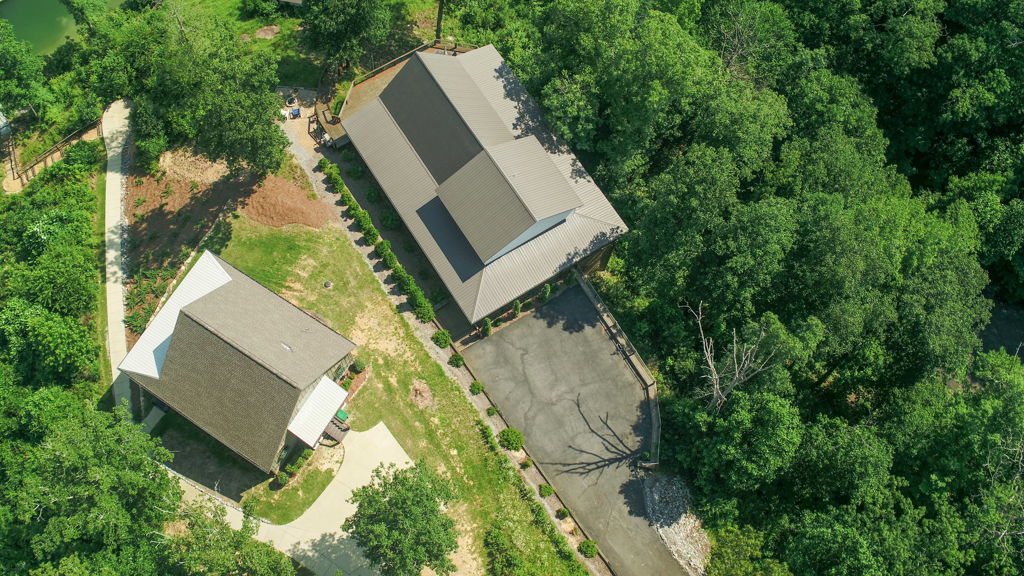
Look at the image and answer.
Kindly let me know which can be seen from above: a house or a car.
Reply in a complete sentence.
I can see a house in this picture.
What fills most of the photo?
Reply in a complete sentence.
The bulk of the photo consists of trees.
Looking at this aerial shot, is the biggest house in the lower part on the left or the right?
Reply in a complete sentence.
The biggest house in the lower part sits on the left side.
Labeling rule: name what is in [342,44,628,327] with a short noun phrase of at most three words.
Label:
house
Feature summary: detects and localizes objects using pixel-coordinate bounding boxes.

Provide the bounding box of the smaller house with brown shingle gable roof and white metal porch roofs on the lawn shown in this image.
[117,249,361,476]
